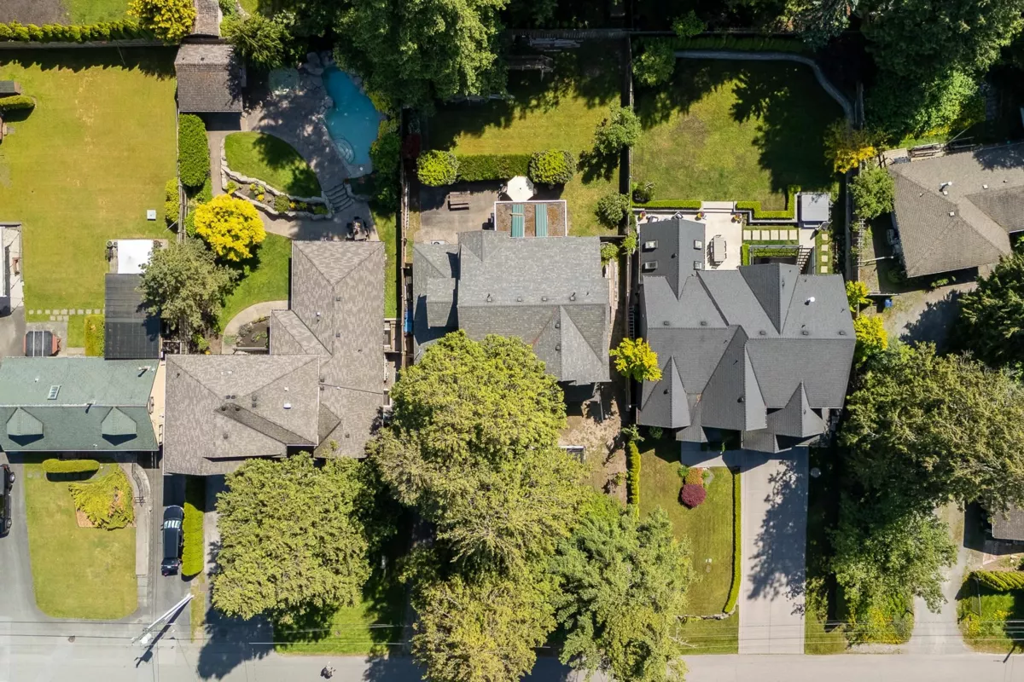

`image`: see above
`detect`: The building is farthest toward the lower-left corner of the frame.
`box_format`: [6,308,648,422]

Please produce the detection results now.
[0,357,164,452]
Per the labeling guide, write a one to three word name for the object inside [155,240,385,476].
house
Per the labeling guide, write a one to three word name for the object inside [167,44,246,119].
shed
